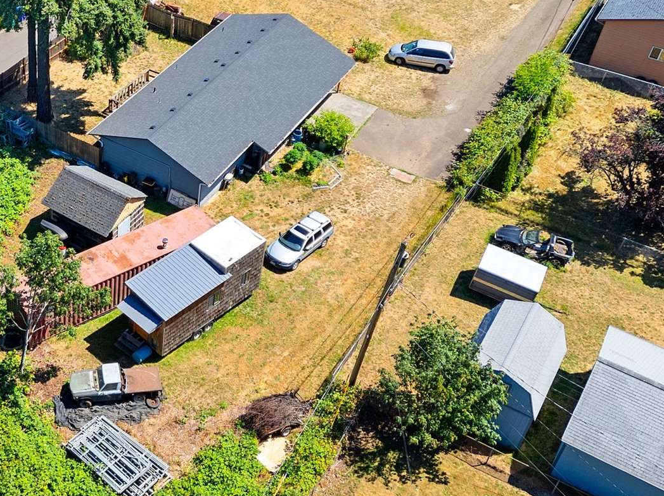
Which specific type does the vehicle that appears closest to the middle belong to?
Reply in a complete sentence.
The vehicle that appears closest to the middle can be classified as a car.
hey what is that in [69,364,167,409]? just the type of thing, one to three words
truck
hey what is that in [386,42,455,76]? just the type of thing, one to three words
car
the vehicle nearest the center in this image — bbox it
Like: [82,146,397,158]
[267,207,335,270]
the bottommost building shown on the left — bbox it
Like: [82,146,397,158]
[115,215,266,365]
